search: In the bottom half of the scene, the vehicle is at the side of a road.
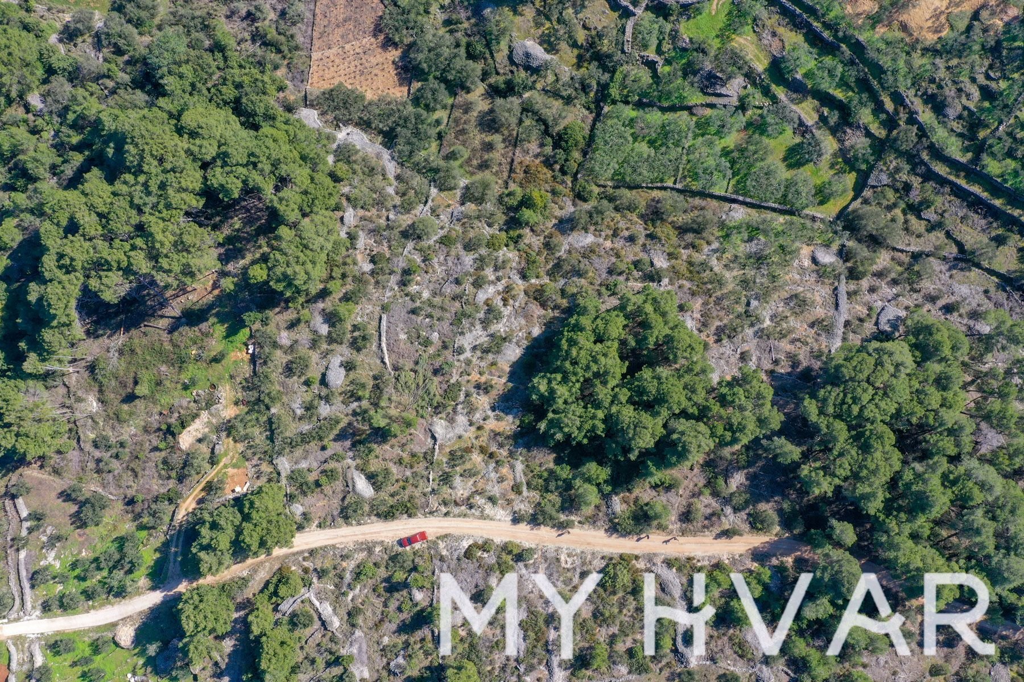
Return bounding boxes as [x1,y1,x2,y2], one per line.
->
[400,532,428,549]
